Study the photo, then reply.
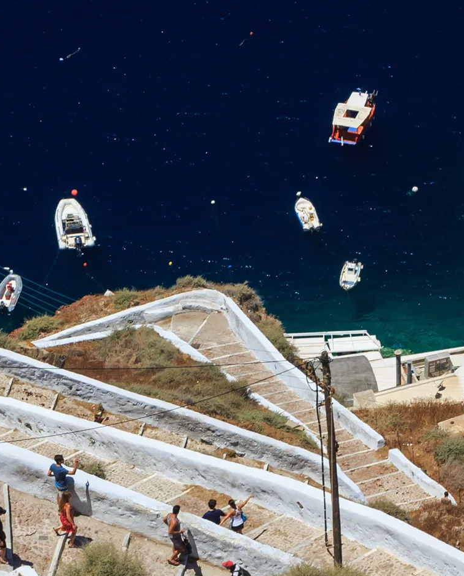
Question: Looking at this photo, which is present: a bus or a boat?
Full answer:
The one in the frame is a boat.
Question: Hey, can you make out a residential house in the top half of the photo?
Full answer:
No, no residential house appears in the top half of the photo.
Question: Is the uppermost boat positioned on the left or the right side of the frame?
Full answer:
You can find the uppermost boat on the right side of the picture.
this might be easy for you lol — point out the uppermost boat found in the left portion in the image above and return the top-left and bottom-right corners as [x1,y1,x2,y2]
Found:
[52,196,98,257]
